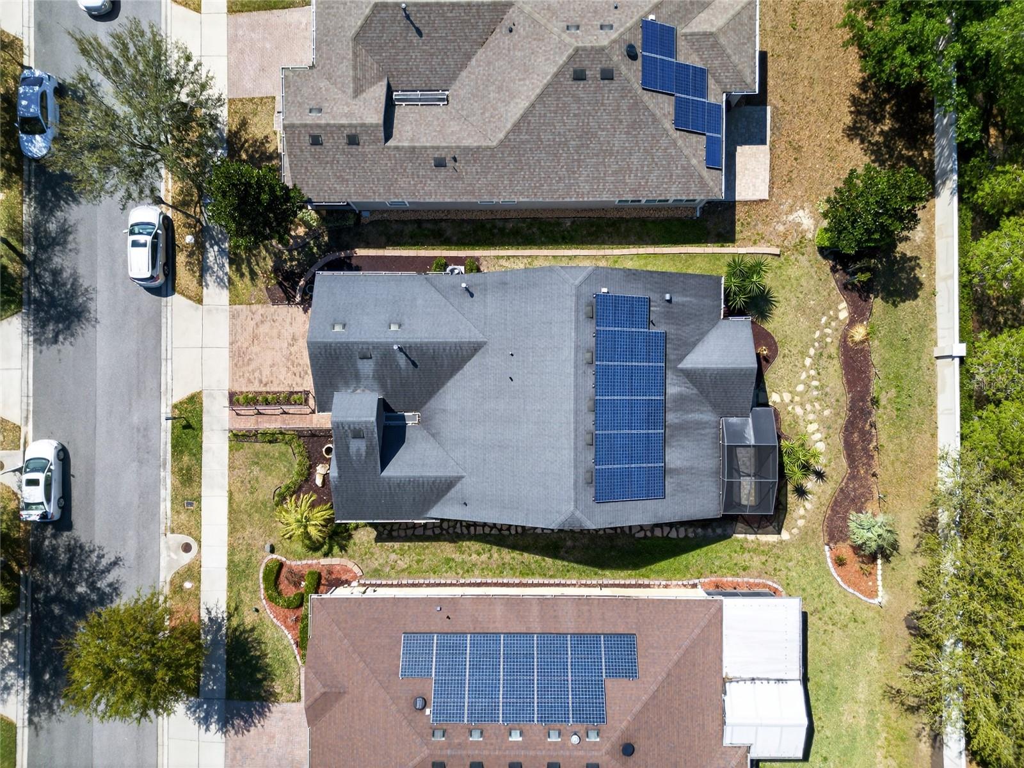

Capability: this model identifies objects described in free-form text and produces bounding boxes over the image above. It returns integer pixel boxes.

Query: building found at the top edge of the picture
[282,0,759,213]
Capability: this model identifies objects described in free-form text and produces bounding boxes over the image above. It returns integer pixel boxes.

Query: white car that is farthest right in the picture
[124,206,170,288]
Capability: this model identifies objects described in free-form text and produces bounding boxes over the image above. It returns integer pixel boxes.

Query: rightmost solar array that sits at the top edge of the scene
[640,17,720,169]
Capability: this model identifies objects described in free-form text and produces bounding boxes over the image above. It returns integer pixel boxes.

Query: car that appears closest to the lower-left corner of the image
[5,439,69,527]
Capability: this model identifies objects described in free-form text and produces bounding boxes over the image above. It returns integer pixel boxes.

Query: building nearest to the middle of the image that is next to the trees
[305,262,760,532]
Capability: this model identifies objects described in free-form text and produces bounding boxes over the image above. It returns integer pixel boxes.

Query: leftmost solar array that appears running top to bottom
[594,291,667,502]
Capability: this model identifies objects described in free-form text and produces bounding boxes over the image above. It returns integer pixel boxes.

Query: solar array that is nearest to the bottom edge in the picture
[398,633,640,729]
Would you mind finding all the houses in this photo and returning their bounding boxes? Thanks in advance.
[300,581,751,768]
[282,0,759,213]
[305,262,760,532]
